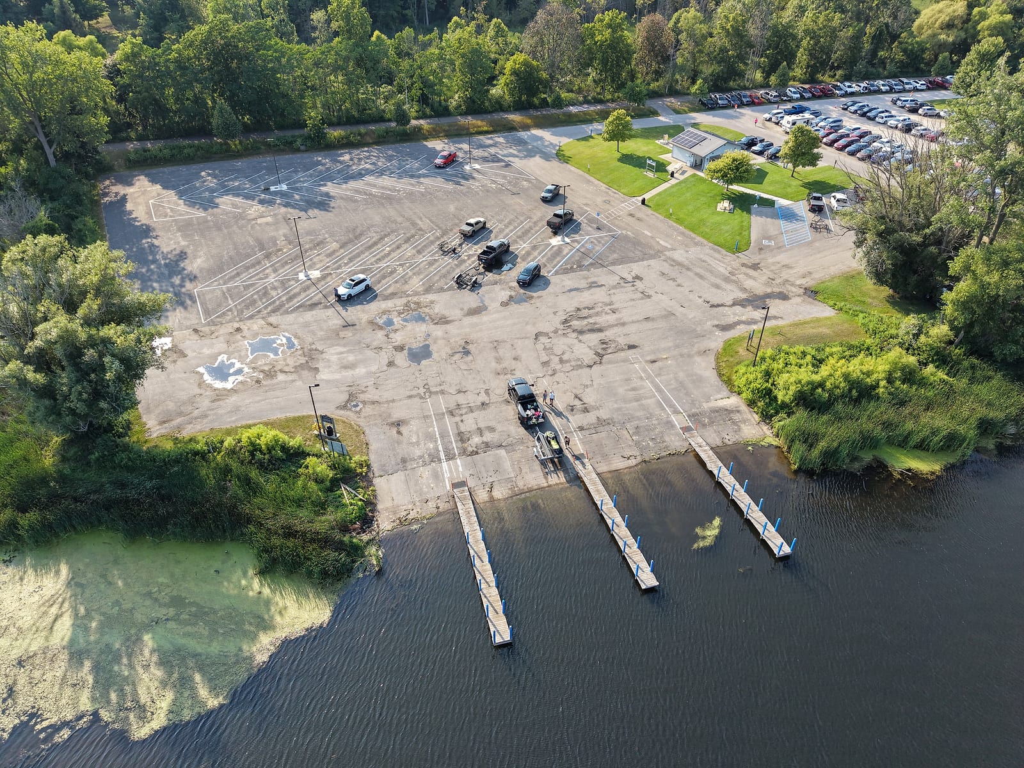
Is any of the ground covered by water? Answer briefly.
Yes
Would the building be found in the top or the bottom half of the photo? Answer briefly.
top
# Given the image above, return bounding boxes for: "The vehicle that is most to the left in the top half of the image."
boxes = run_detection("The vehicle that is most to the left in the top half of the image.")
[332,273,370,299]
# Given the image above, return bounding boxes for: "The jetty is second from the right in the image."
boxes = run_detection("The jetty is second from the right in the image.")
[568,446,663,592]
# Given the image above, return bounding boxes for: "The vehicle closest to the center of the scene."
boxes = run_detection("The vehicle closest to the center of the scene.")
[511,378,544,423]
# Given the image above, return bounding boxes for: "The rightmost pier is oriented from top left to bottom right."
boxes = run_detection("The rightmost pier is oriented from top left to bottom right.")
[679,421,796,559]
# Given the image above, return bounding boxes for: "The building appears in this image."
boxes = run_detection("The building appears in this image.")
[668,128,754,172]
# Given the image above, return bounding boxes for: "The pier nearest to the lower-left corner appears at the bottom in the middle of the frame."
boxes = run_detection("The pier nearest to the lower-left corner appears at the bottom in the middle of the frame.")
[450,477,516,647]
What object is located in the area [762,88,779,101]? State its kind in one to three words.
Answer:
vehicle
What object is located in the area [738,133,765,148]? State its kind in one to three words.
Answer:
vehicle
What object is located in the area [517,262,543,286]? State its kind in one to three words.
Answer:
car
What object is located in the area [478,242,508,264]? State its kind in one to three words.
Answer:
truck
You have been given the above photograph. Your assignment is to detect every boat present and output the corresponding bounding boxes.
[547,428,565,454]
